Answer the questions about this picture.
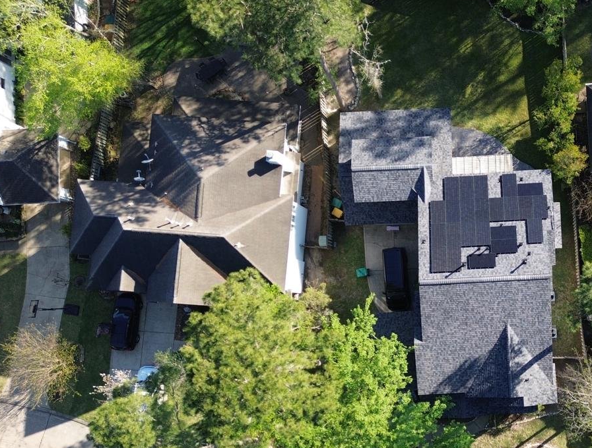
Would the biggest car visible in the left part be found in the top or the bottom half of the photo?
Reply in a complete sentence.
Seen from above, the biggest car visible in the left part lies in the bottom half of the view.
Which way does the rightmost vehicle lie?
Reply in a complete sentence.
In this picture, the rightmost vehicle lies vertically.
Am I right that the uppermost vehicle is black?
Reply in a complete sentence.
Yes, black is the color of the uppermost vehicle.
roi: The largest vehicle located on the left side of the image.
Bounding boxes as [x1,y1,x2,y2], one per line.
[108,291,144,353]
